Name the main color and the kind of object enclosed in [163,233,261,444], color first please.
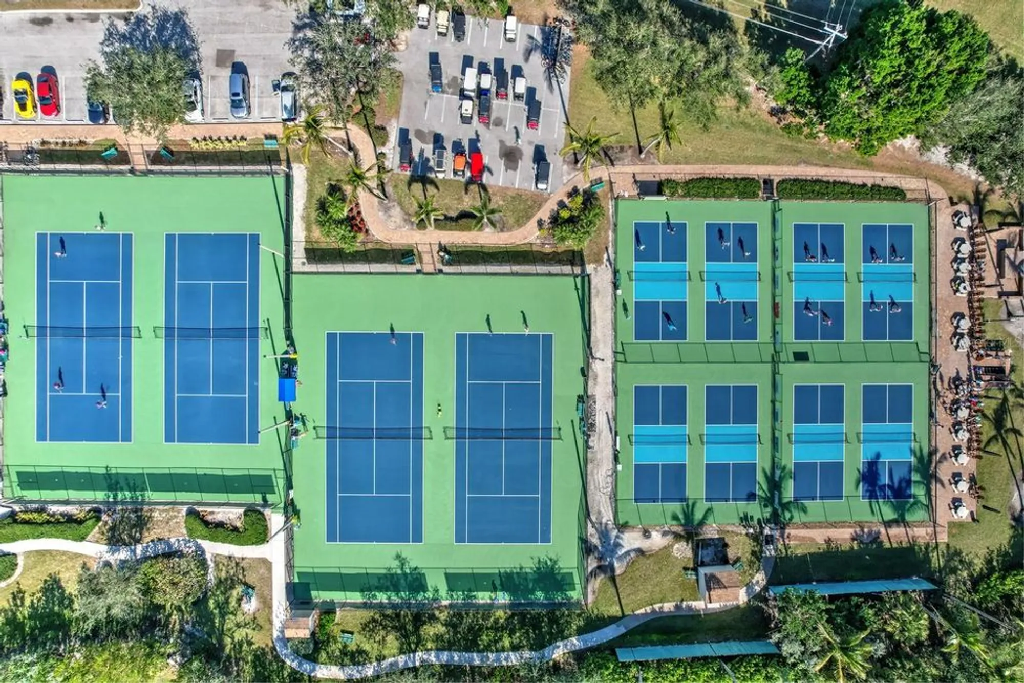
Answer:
blue tennis court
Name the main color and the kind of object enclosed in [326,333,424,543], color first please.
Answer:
blue tennis court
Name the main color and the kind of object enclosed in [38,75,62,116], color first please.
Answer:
red car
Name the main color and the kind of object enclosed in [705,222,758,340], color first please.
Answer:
blue sports court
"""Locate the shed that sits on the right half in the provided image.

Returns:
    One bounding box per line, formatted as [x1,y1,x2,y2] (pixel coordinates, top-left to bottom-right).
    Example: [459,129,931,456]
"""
[700,564,741,604]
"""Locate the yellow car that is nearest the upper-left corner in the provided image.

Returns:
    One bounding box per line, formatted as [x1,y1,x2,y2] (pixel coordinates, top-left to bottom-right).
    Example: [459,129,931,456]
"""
[14,78,38,119]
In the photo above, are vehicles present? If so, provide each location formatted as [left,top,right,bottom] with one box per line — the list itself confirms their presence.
[434,151,447,179]
[453,13,466,43]
[430,67,443,94]
[463,68,476,100]
[453,153,466,178]
[417,3,431,31]
[505,16,516,44]
[228,74,250,117]
[399,145,413,172]
[514,77,526,104]
[86,85,109,125]
[527,101,540,131]
[38,75,62,116]
[437,10,450,38]
[185,80,205,122]
[536,161,549,191]
[471,154,483,182]
[461,100,473,127]
[478,97,490,126]
[496,74,508,101]
[480,73,491,98]
[14,78,38,119]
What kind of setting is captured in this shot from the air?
sports ground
